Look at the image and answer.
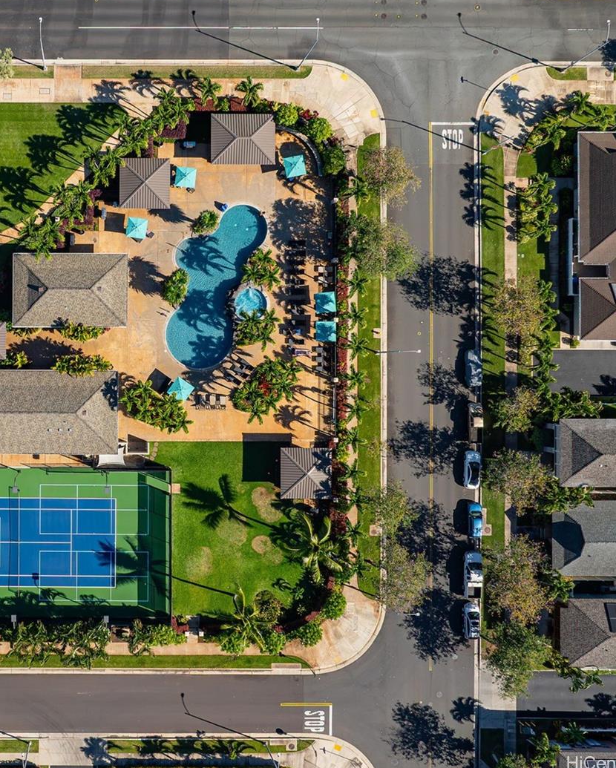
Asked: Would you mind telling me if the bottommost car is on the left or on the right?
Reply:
right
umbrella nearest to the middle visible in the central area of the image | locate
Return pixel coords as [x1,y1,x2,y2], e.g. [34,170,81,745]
[313,320,335,342]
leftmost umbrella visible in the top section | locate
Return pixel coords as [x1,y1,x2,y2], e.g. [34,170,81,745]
[125,217,147,239]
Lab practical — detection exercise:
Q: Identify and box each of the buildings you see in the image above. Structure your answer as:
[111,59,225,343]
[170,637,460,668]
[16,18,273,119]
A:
[12,253,129,328]
[542,501,616,577]
[209,113,276,168]
[0,320,7,361]
[538,419,616,487]
[550,596,616,668]
[0,370,118,455]
[568,131,616,340]
[118,158,171,210]
[277,447,332,500]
